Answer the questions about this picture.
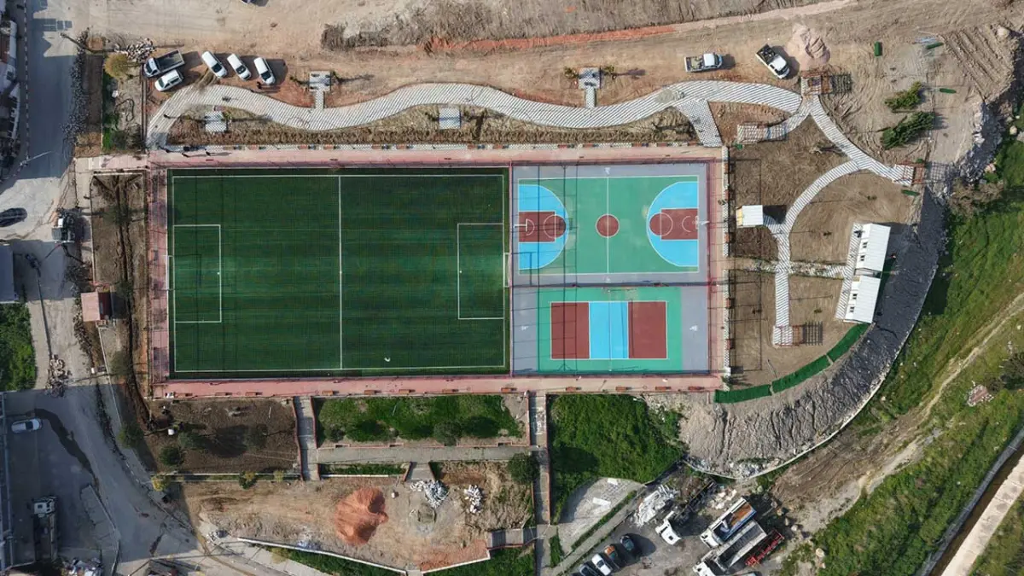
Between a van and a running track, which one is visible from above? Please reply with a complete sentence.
Visible in the photo is a van.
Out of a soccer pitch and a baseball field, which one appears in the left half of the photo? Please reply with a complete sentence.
What appears in the left half of the photo is a soccer pitch.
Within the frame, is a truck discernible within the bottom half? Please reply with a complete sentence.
Yes, a truck is visible within the bottom half.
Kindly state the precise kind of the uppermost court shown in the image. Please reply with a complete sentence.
From above, the uppermost court can be identified as a basketball court.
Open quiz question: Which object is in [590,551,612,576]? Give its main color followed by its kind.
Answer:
white car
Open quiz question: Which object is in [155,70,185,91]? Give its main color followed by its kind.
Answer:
white car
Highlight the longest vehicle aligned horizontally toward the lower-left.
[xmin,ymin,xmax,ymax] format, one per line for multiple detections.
[11,418,42,432]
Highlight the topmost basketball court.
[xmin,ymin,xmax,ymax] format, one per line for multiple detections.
[512,163,709,285]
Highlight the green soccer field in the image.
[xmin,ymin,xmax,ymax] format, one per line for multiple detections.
[166,163,510,379]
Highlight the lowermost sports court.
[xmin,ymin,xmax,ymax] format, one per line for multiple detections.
[512,286,710,375]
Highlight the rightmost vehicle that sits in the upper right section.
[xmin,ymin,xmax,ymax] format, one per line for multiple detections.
[758,45,788,79]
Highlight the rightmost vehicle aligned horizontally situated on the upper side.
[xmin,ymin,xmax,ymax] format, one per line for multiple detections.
[685,54,721,71]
